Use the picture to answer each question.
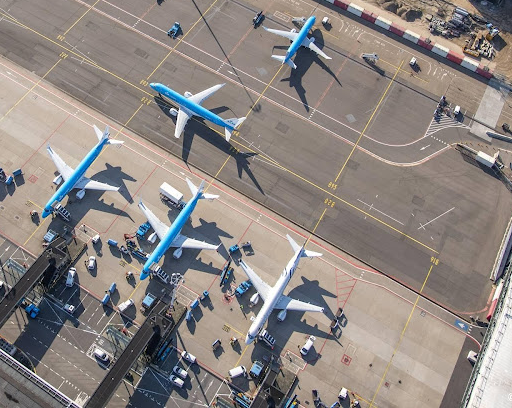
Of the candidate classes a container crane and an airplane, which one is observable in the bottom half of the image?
airplane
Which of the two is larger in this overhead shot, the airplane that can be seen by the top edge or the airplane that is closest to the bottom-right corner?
the airplane that is closest to the bottom-right corner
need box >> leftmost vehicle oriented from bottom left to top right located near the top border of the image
[168,19,181,34]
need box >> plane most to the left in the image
[44,123,125,215]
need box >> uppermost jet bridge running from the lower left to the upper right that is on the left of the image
[0,236,73,330]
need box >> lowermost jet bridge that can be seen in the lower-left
[84,302,175,408]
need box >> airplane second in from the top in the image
[151,82,248,141]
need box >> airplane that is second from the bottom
[139,177,220,277]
